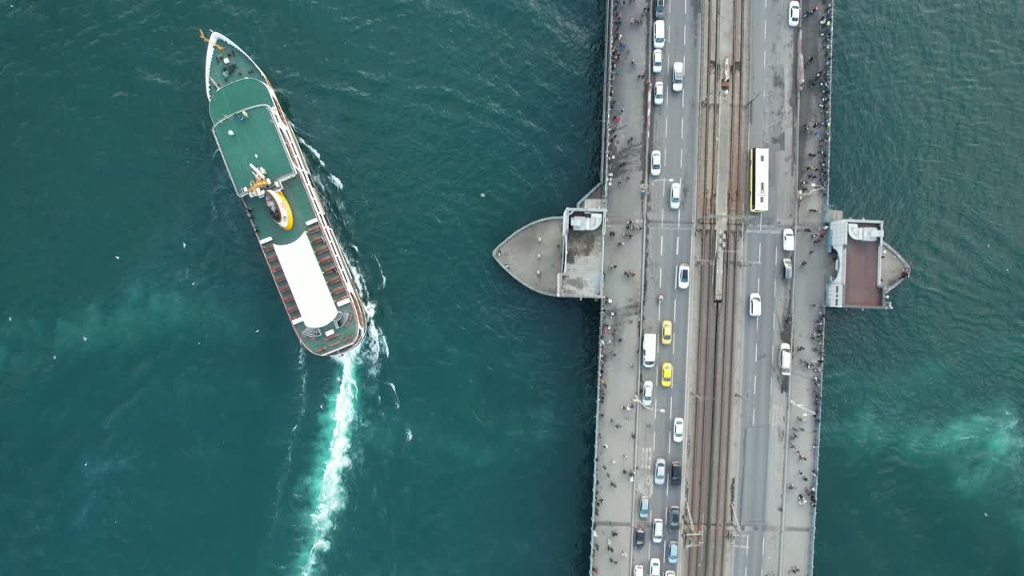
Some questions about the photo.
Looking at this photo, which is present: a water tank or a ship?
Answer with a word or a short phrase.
ship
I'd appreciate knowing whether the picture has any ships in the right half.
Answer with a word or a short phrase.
No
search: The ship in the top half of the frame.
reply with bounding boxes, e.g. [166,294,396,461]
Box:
[199,28,367,355]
